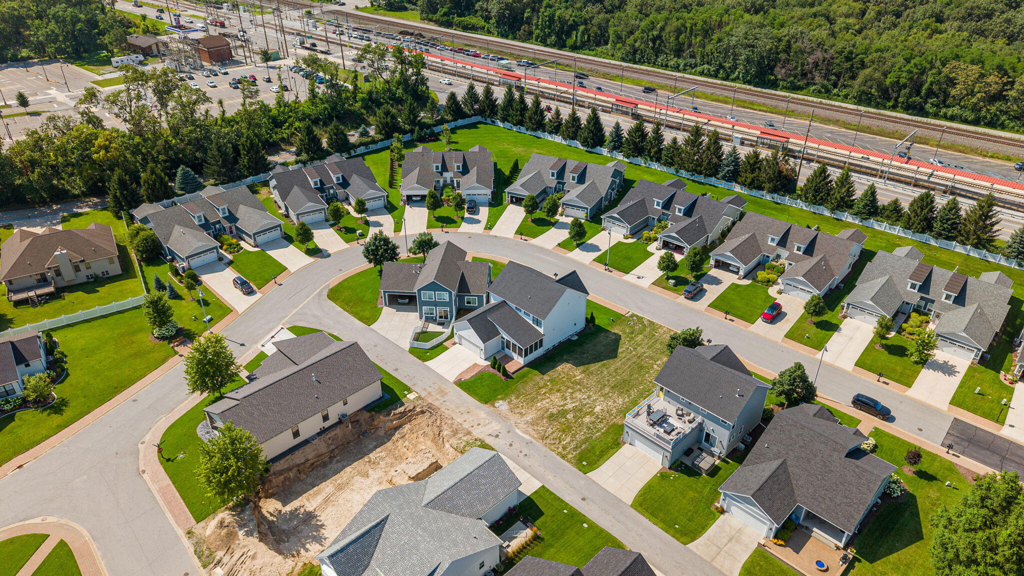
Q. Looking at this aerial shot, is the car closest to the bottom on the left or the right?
right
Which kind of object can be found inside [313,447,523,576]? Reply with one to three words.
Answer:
house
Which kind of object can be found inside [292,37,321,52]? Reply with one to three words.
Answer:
vehicle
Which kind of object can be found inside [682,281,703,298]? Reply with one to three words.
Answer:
car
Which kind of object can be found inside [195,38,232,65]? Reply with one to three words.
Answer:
building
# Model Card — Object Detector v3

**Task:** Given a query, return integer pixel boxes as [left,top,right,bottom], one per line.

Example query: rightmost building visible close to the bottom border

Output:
[718,398,893,576]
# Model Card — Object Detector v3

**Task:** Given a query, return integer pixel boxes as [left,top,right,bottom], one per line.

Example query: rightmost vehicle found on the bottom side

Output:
[850,392,894,421]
